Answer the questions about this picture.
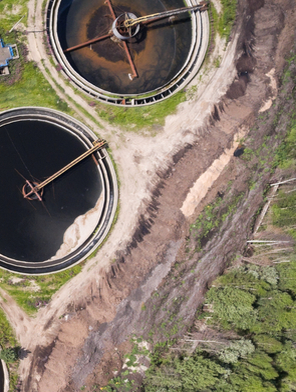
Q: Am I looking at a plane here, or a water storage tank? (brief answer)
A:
water storage tank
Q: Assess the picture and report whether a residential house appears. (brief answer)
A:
No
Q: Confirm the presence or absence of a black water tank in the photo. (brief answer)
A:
Yes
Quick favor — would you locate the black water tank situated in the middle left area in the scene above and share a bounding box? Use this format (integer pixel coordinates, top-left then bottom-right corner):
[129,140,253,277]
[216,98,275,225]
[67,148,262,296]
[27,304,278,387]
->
[0,106,118,275]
